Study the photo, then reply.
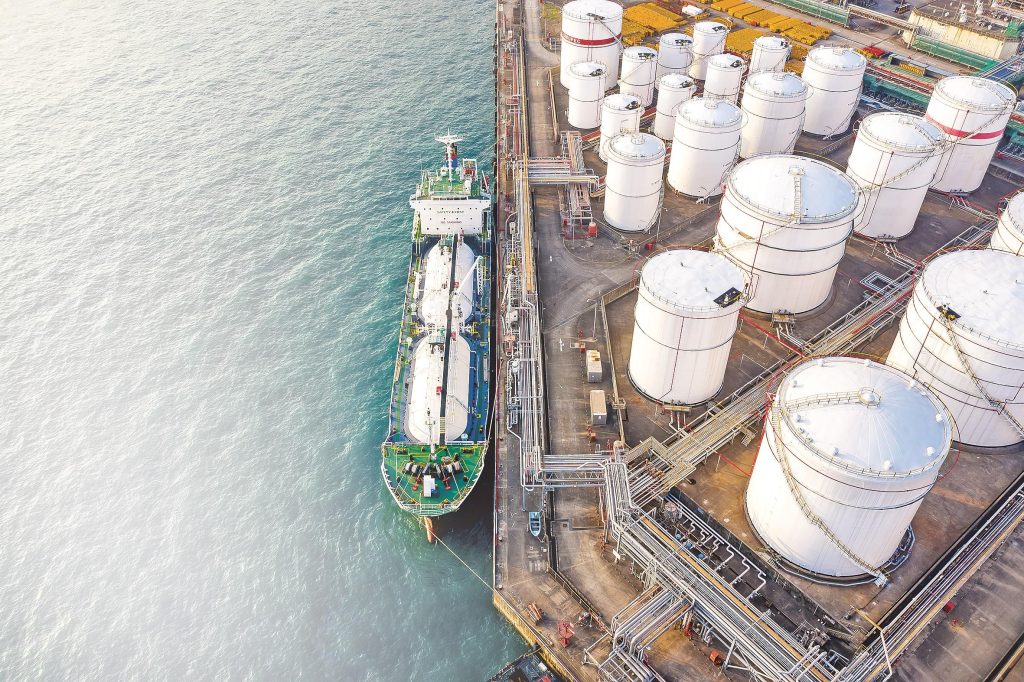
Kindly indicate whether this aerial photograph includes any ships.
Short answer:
Yes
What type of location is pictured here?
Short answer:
industrial area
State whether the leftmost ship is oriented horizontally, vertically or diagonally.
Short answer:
vertically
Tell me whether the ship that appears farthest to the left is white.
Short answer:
Yes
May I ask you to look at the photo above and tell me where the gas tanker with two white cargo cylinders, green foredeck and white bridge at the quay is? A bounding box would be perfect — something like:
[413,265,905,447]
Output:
[379,129,491,544]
